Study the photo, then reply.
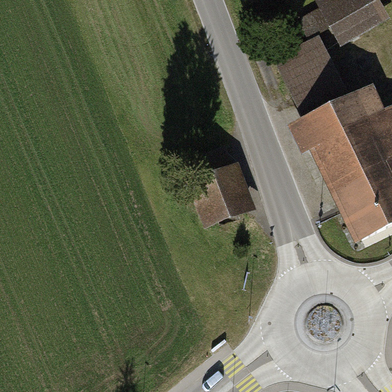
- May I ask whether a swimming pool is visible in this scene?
No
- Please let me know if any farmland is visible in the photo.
Yes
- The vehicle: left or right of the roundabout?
on the left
